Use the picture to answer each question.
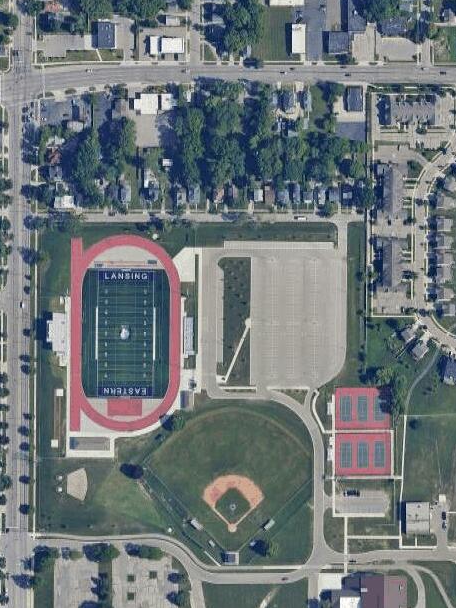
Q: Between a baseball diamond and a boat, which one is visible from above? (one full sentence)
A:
The one in the frame is a baseball diamond.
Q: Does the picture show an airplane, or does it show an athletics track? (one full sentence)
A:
Visible in the photo is an athletics track.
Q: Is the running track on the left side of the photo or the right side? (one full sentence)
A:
You can find the running track on the left side of the picture.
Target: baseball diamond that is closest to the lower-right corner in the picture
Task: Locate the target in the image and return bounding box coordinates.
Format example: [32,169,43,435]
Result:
[149,406,311,553]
